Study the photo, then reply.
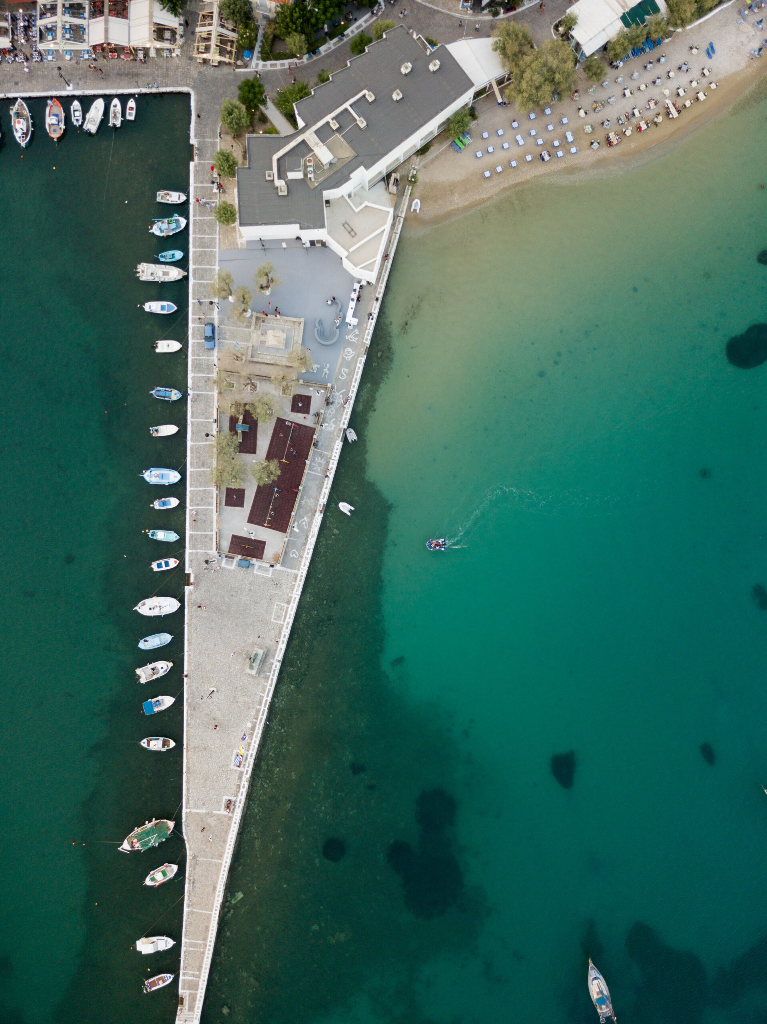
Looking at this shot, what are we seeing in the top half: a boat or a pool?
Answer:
boat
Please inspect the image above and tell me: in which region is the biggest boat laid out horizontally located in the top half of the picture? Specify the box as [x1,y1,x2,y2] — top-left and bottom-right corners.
[138,263,188,282]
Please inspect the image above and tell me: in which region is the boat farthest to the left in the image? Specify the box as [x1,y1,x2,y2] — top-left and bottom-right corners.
[9,98,33,148]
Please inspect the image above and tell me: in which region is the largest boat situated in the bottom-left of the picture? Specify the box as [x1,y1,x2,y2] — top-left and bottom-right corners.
[120,819,175,852]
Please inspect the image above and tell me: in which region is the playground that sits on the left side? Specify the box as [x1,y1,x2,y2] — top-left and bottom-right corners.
[218,371,327,562]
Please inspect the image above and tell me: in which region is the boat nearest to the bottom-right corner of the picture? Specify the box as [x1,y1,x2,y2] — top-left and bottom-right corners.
[586,951,615,1023]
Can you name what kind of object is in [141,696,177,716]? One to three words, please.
boat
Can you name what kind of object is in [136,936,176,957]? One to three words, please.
boat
